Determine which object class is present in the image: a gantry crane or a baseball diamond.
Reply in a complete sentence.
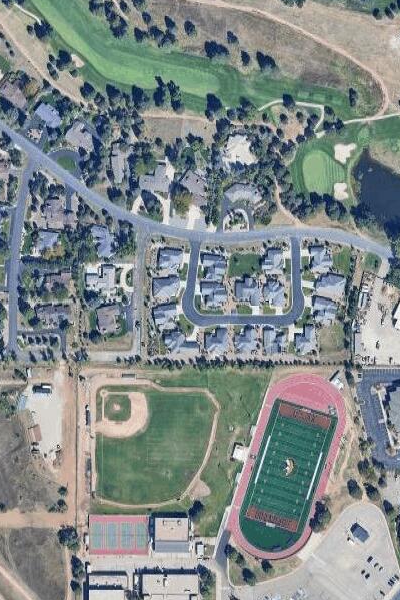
It is a baseball diamond that can be seen here.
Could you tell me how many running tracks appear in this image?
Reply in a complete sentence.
Just 1 running track appears in this view.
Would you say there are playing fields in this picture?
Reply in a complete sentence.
Yes, the frame does contain a playing field.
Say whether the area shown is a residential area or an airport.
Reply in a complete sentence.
What you see here is a residential area.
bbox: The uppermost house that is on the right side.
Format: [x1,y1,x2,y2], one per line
[222,132,258,164]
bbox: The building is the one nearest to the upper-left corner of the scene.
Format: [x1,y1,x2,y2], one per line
[0,80,30,111]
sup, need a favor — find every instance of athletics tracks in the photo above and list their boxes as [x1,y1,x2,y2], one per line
[230,373,346,561]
